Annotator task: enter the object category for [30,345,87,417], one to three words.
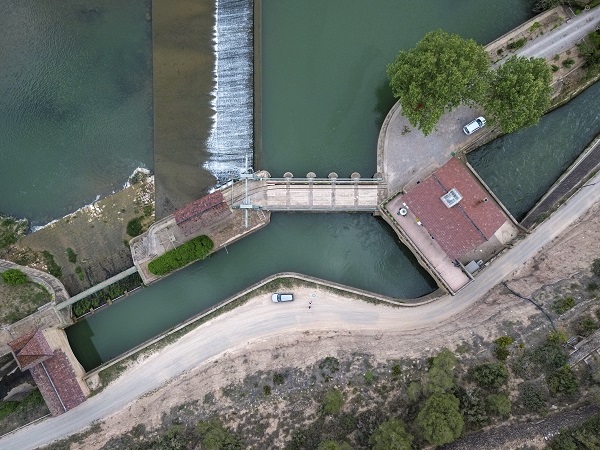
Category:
house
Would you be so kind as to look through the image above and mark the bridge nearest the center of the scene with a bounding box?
[229,172,388,210]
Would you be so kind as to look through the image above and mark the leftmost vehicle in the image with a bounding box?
[272,291,294,304]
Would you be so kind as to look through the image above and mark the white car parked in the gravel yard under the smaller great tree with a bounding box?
[461,116,486,136]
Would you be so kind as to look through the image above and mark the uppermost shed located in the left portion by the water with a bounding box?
[174,190,232,237]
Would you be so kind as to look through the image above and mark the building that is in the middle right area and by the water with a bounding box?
[402,158,508,259]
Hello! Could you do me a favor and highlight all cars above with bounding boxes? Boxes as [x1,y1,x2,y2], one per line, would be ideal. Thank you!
[272,291,294,304]
[461,116,486,136]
